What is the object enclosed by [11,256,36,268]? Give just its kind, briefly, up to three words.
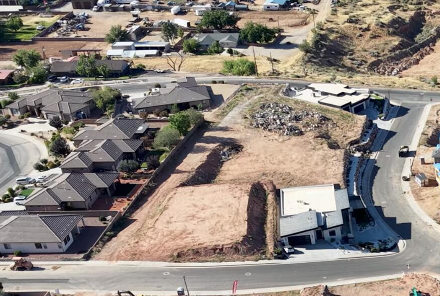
vehicle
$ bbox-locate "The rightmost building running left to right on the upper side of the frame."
[306,84,371,115]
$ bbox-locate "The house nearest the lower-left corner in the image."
[0,211,92,252]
